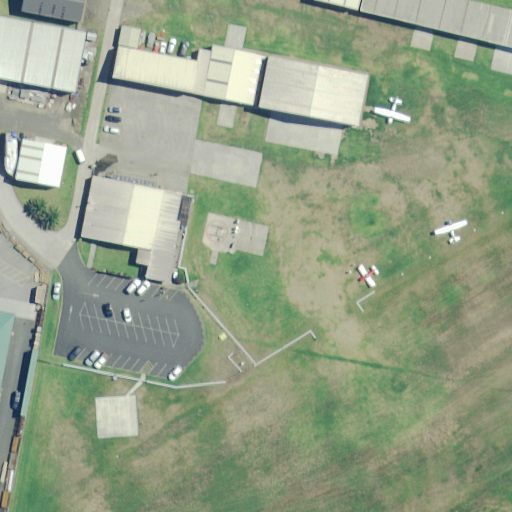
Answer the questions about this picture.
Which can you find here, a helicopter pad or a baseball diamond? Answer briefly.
helicopter pad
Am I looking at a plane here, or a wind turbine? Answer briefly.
plane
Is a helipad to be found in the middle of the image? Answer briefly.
Yes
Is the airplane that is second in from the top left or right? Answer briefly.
right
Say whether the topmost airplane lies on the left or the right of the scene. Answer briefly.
right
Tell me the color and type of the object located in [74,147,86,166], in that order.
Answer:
white vehicle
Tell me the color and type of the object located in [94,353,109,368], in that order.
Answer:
white vehicle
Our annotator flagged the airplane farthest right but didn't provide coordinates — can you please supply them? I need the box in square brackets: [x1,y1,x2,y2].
[434,219,468,242]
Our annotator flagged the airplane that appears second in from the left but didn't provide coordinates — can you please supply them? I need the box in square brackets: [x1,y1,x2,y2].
[374,98,410,125]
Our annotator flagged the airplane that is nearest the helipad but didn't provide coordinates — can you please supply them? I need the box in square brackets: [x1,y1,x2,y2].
[358,266,378,287]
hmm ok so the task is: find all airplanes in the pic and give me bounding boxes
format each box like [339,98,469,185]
[358,266,378,287]
[434,219,468,242]
[374,98,410,125]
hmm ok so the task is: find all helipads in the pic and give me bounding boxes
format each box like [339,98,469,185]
[203,212,268,264]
